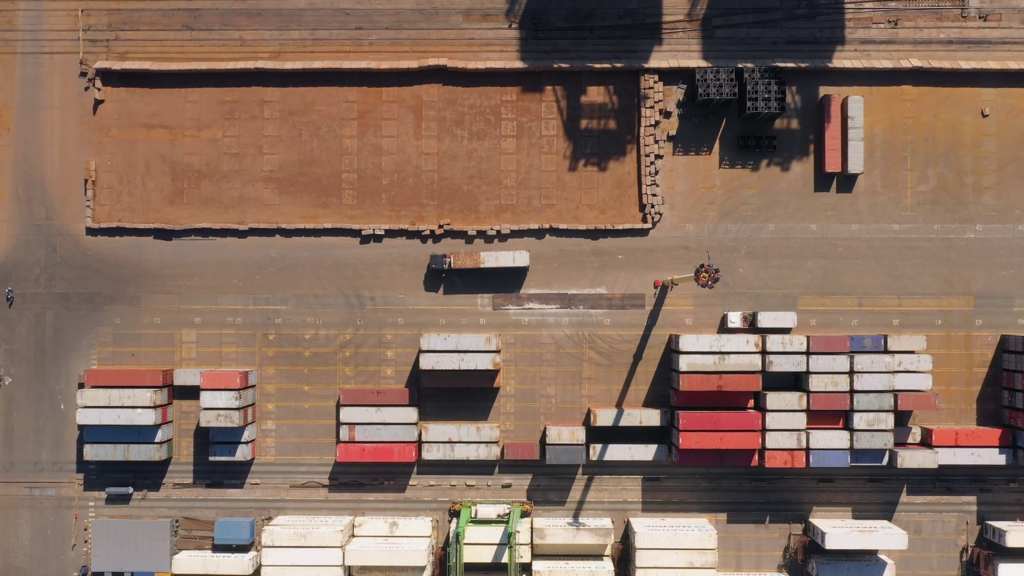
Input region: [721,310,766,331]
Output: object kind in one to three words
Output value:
truck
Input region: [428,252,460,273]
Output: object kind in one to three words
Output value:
truck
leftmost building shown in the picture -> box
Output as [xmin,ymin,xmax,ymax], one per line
[91,517,176,571]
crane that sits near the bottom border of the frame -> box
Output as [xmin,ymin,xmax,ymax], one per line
[444,501,539,576]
